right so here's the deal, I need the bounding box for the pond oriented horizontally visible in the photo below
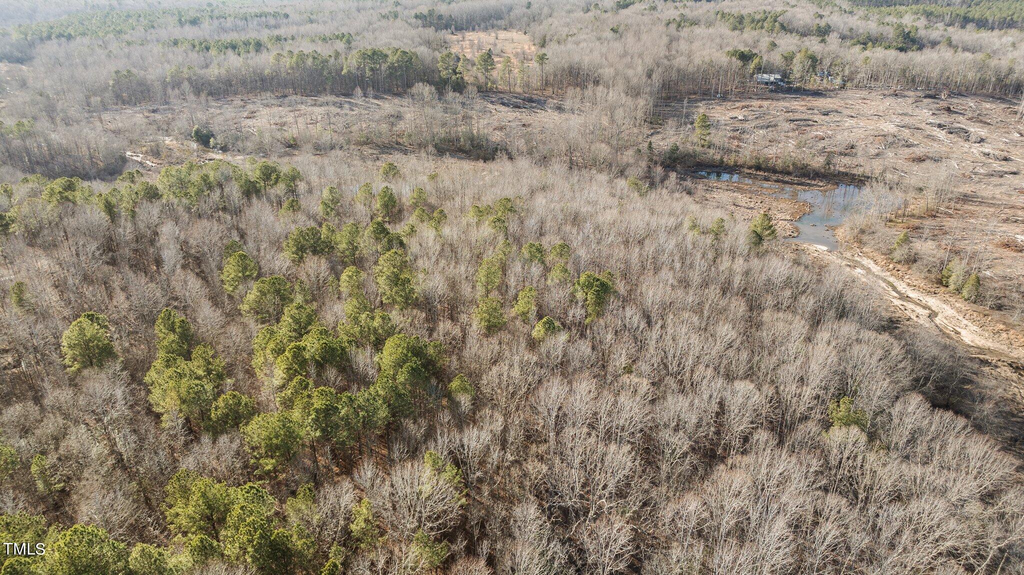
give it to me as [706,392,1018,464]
[692,171,892,254]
